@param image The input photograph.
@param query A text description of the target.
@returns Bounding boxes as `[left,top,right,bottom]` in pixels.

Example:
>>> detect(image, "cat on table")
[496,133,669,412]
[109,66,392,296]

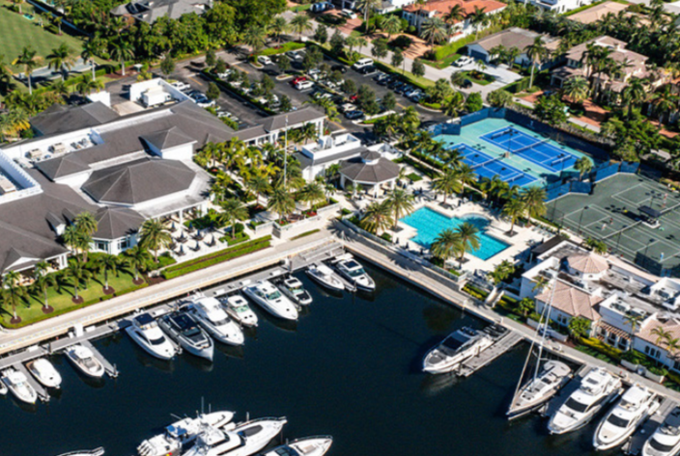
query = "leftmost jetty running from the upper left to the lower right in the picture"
[14,360,51,401]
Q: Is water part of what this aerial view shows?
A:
Yes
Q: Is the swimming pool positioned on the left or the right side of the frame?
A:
right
